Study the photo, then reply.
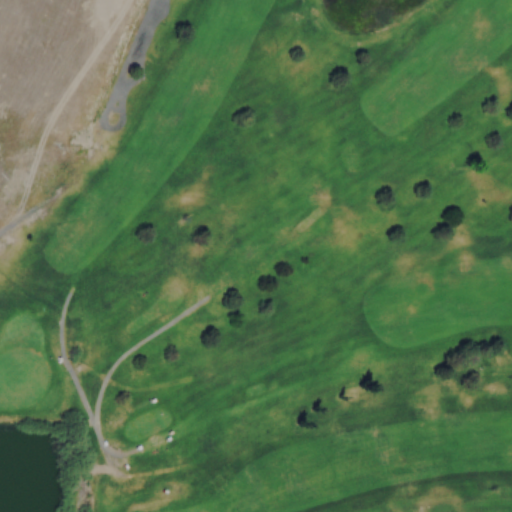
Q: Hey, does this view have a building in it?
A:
No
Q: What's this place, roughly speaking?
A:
golf course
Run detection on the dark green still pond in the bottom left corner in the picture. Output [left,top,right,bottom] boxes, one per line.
[0,428,62,512]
